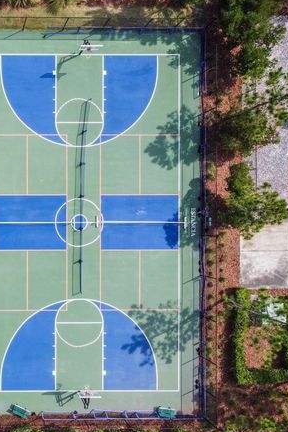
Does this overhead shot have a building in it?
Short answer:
No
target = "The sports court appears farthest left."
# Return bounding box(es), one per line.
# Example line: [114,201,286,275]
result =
[0,134,68,311]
